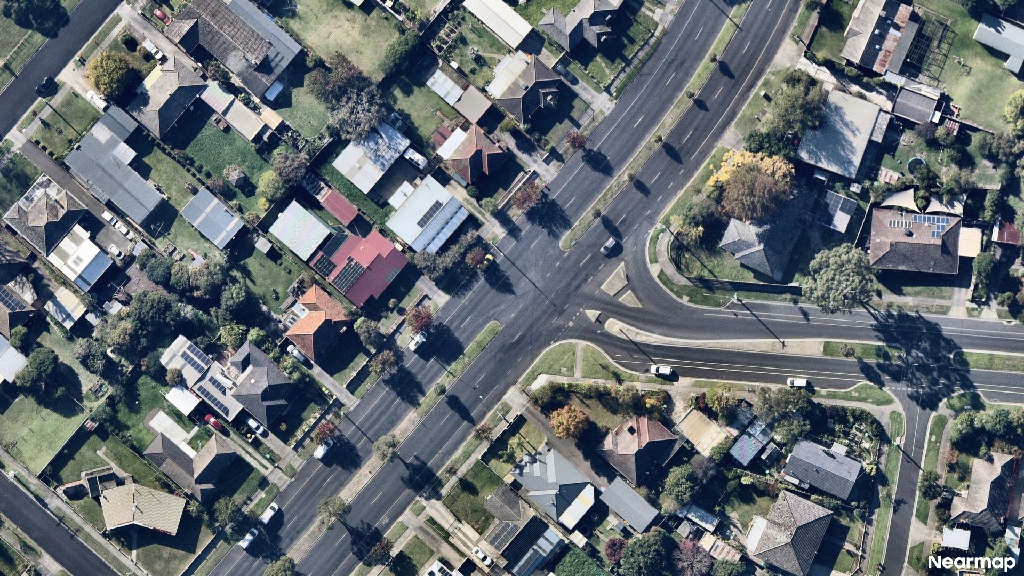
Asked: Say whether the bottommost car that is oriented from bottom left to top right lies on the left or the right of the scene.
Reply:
left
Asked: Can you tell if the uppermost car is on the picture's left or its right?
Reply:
left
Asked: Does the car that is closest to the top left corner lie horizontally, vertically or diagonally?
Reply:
diagonally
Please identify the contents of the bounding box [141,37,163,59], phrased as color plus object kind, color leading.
white vehicle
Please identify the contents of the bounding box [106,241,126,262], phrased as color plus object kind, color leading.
white car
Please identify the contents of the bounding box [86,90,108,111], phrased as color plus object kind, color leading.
white vehicle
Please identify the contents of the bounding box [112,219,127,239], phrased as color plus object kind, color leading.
white car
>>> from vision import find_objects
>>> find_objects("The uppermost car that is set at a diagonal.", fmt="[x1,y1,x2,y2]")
[152,7,173,27]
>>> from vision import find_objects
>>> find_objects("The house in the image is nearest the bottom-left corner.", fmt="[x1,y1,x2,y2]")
[100,484,186,535]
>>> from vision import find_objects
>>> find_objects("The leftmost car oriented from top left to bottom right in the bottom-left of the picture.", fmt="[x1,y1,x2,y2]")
[203,412,224,431]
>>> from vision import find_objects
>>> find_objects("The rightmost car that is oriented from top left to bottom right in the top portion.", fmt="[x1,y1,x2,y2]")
[557,64,578,85]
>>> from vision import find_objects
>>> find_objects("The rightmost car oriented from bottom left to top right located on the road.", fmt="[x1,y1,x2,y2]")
[599,235,618,258]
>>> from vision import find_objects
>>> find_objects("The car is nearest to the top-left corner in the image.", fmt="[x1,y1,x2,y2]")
[36,75,56,98]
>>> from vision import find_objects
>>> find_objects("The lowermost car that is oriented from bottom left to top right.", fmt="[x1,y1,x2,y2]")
[238,527,258,550]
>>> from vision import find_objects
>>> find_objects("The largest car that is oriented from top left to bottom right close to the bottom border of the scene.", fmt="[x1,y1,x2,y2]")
[471,546,491,566]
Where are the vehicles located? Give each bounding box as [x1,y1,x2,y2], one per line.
[203,412,224,431]
[599,235,618,258]
[141,37,163,59]
[471,546,491,566]
[36,75,56,98]
[786,377,809,387]
[238,527,258,550]
[557,64,578,85]
[408,331,427,353]
[112,219,127,239]
[285,343,307,363]
[97,208,117,229]
[86,90,108,111]
[650,364,673,375]
[152,7,173,27]
[106,241,126,262]
[314,439,333,460]
[244,416,266,436]
[259,502,278,525]
[64,486,87,497]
